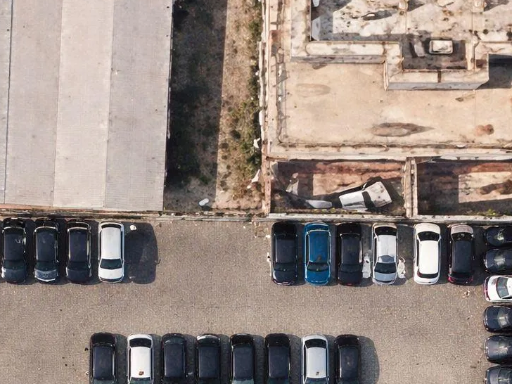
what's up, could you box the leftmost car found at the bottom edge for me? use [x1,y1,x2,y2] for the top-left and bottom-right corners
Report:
[88,332,116,384]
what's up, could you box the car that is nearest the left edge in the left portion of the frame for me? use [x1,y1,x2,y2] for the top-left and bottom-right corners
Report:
[0,215,27,285]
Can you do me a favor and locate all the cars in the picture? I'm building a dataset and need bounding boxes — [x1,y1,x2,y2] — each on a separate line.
[88,332,116,384]
[481,304,512,334]
[303,223,334,288]
[482,274,512,304]
[447,224,476,287]
[371,222,400,288]
[194,331,223,384]
[481,333,512,365]
[64,217,93,286]
[481,245,512,276]
[270,220,300,288]
[95,218,126,284]
[483,225,512,247]
[264,331,292,384]
[159,331,188,384]
[0,215,27,285]
[301,331,330,384]
[32,216,59,285]
[228,332,257,384]
[413,223,443,287]
[126,331,154,384]
[482,364,512,384]
[334,331,363,384]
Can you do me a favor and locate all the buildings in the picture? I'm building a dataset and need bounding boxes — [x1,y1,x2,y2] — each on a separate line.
[265,0,512,166]
[0,0,175,213]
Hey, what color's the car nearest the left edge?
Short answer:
black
